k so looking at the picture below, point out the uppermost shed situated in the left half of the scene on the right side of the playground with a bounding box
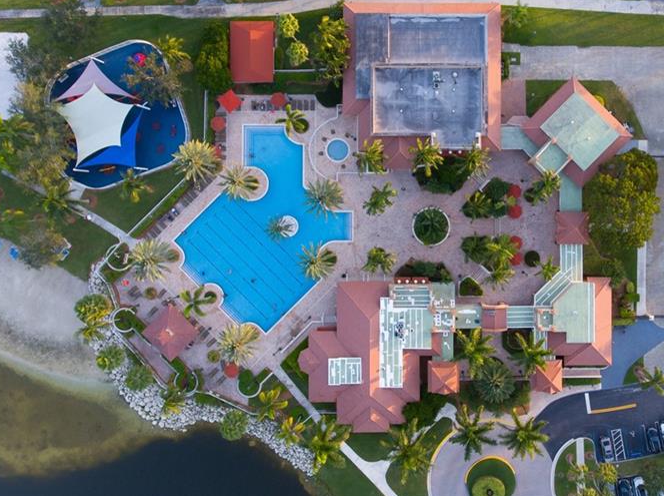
[230,21,276,84]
